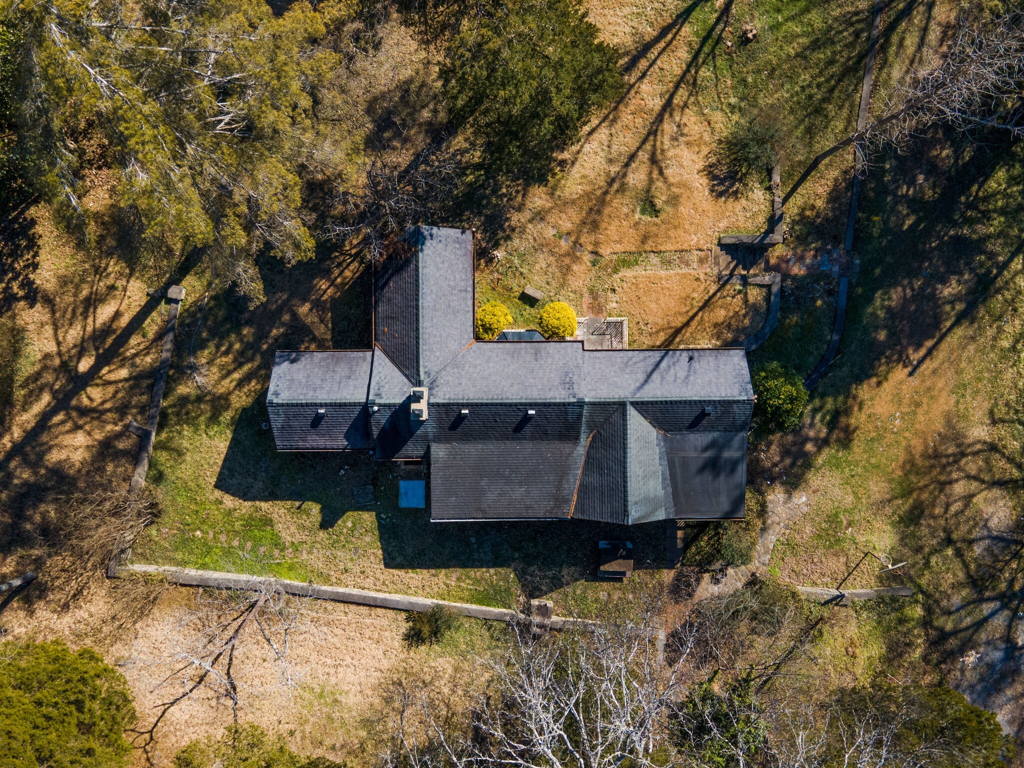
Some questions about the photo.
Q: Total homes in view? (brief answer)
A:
one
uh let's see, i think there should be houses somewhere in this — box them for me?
[264,225,757,526]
